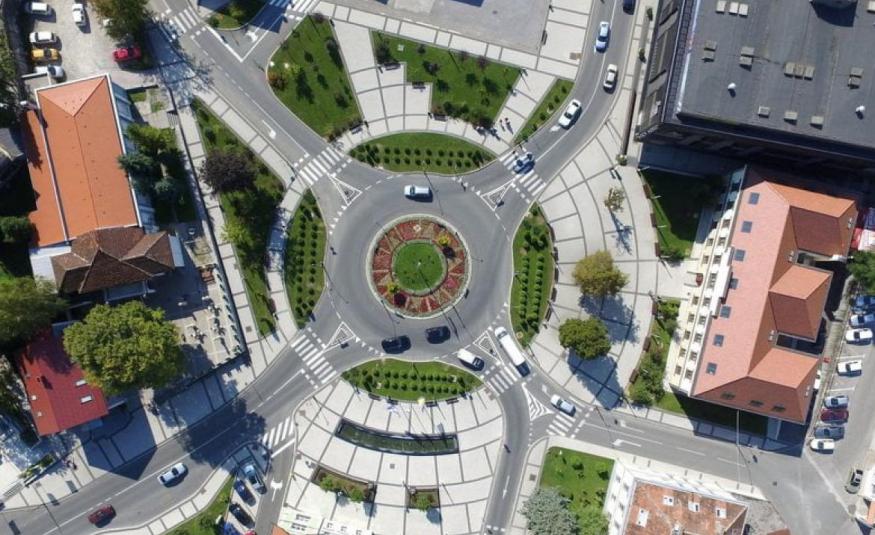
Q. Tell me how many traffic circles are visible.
one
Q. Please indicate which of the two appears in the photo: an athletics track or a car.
car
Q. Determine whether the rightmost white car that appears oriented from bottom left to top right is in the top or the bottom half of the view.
top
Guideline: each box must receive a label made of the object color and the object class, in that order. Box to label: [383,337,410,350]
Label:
black vehicle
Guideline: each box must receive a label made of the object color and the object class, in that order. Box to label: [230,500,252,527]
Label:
black car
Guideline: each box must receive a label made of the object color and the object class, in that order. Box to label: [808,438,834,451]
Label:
white vehicle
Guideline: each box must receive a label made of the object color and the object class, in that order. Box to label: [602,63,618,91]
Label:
white car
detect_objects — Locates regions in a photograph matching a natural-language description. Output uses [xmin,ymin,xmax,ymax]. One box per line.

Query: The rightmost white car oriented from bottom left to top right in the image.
[559,101,581,127]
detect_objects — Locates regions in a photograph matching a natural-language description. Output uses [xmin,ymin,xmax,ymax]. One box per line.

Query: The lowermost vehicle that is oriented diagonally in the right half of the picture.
[550,395,575,414]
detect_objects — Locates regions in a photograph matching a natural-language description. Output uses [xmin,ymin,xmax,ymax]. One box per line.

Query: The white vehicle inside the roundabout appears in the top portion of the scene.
[404,185,431,197]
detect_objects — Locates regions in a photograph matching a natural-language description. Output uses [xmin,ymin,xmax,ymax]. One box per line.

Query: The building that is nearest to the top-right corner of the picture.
[639,0,875,175]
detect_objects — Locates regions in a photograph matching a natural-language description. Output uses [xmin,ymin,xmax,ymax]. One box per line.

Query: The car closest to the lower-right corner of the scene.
[844,466,862,493]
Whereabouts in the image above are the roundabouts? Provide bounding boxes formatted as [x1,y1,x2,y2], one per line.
[326,174,511,359]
